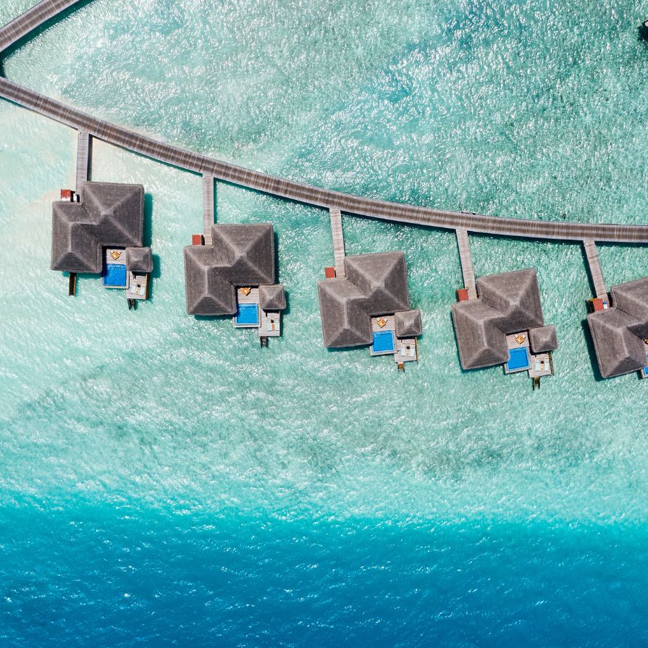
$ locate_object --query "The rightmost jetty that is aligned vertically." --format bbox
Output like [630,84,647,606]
[582,240,610,310]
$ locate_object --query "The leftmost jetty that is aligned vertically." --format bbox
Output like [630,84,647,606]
[76,130,92,202]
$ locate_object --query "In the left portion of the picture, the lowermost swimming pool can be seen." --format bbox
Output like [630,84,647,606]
[235,301,261,327]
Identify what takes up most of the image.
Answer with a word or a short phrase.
water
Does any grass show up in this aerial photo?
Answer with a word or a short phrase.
No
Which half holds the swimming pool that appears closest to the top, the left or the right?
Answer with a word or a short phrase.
left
